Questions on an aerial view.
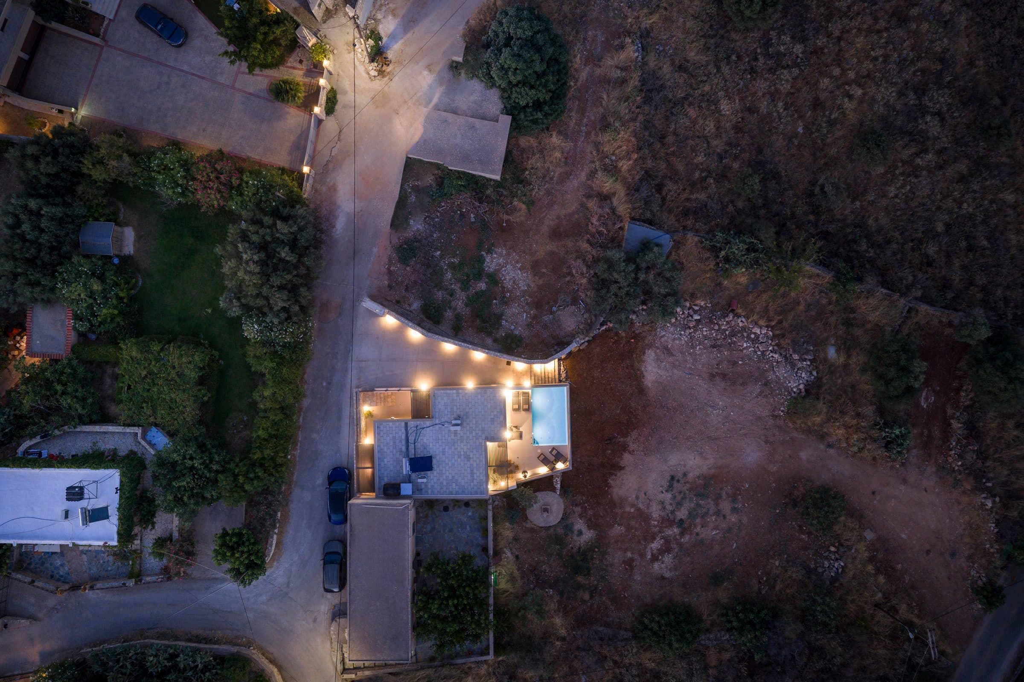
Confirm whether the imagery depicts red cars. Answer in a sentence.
No, there isn't any red car down there.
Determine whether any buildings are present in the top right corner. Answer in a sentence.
No, no building can be made out in the top right corner.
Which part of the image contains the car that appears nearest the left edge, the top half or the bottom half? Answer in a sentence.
It is in the top half that the car that appears nearest the left edge appears.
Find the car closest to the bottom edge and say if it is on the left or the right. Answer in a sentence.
The car closest to the bottom edge sits on the left side.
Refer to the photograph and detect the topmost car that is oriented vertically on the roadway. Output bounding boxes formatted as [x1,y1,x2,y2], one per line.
[321,468,348,527]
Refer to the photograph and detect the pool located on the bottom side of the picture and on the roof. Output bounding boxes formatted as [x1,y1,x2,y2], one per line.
[532,386,568,446]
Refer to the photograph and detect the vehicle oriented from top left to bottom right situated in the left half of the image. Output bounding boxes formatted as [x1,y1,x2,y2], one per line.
[127,0,185,44]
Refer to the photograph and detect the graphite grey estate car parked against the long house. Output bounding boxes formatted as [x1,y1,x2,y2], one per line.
[317,541,344,595]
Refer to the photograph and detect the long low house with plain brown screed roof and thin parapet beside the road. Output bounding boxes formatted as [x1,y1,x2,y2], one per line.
[348,496,419,661]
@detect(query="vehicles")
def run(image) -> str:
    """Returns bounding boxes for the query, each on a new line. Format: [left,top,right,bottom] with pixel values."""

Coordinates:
[317,541,344,595]
[127,0,185,44]
[321,468,348,527]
